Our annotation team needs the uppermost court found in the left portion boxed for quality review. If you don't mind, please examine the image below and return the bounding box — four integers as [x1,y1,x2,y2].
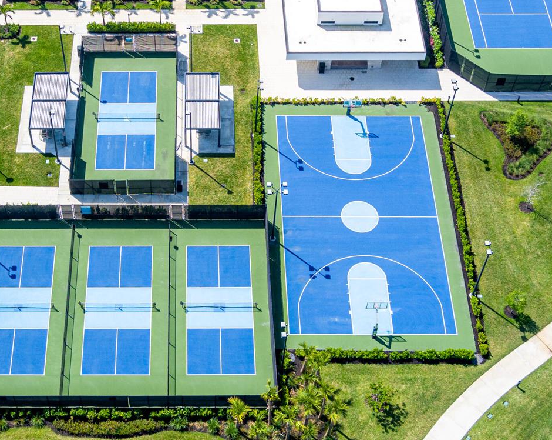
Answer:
[73,51,176,194]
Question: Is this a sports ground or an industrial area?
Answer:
sports ground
